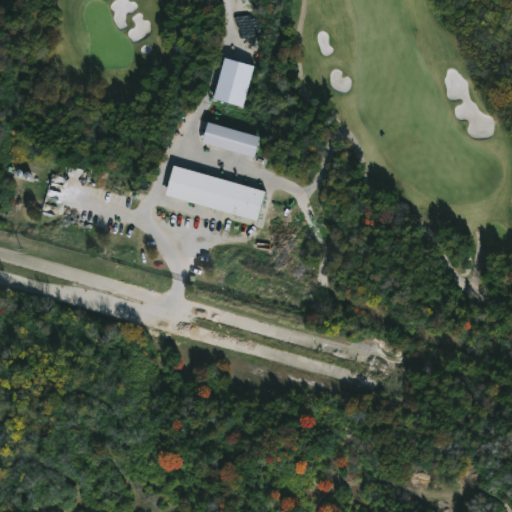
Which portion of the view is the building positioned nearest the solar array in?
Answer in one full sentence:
Look in the top portion of the view to spot the building positioned nearest the solar array.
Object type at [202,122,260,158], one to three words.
building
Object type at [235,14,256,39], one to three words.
solar array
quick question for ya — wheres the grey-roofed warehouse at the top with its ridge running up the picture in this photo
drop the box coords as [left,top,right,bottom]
[213,57,255,108]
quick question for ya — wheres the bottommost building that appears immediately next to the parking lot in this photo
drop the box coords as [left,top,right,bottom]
[166,165,266,221]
